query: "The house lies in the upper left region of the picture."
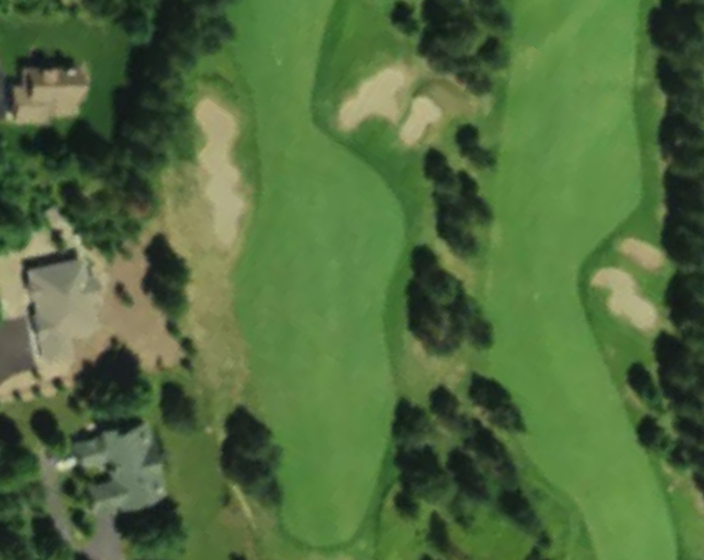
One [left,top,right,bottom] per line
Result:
[13,68,88,123]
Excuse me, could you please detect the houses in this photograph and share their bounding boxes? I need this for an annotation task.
[71,421,168,516]
[13,68,88,123]
[25,262,105,364]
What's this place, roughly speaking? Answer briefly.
golf course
